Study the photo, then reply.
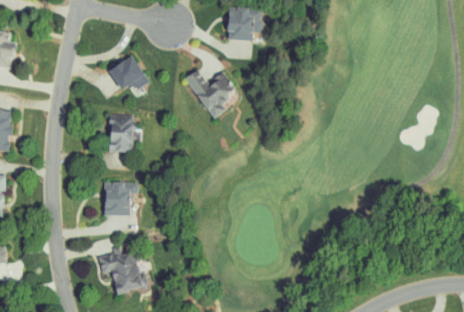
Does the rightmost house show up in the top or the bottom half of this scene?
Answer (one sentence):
The rightmost house is in the top half of the image.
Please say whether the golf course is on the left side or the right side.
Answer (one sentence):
You can find the golf course on the right side of the picture.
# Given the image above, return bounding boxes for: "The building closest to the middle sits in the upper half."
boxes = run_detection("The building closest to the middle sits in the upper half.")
[186,70,240,118]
